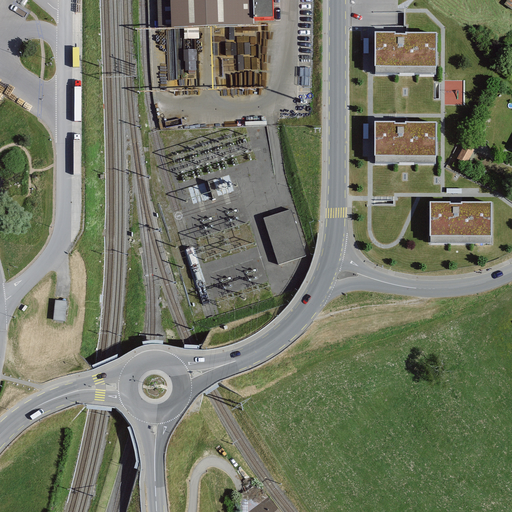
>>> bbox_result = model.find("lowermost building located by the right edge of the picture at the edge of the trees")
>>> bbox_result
[430,201,494,246]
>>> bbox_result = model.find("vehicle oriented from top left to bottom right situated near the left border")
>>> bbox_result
[10,4,28,18]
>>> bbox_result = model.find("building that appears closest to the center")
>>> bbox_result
[264,210,306,264]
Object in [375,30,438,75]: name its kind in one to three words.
building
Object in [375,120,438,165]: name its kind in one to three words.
building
